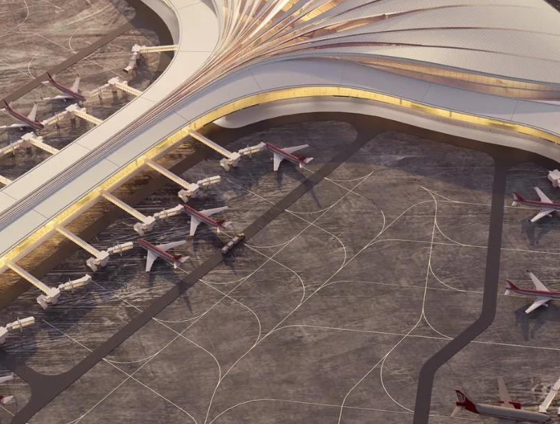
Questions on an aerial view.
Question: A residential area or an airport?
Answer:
airport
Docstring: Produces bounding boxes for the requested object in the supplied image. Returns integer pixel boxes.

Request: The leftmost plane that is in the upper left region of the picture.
[0,89,42,126]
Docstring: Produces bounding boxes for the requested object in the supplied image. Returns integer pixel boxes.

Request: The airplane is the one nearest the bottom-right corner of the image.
[450,367,551,424]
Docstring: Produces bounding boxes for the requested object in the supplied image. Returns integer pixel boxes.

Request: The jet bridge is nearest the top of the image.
[124,45,177,76]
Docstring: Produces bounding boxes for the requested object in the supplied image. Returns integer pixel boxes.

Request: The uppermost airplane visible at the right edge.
[513,176,560,215]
